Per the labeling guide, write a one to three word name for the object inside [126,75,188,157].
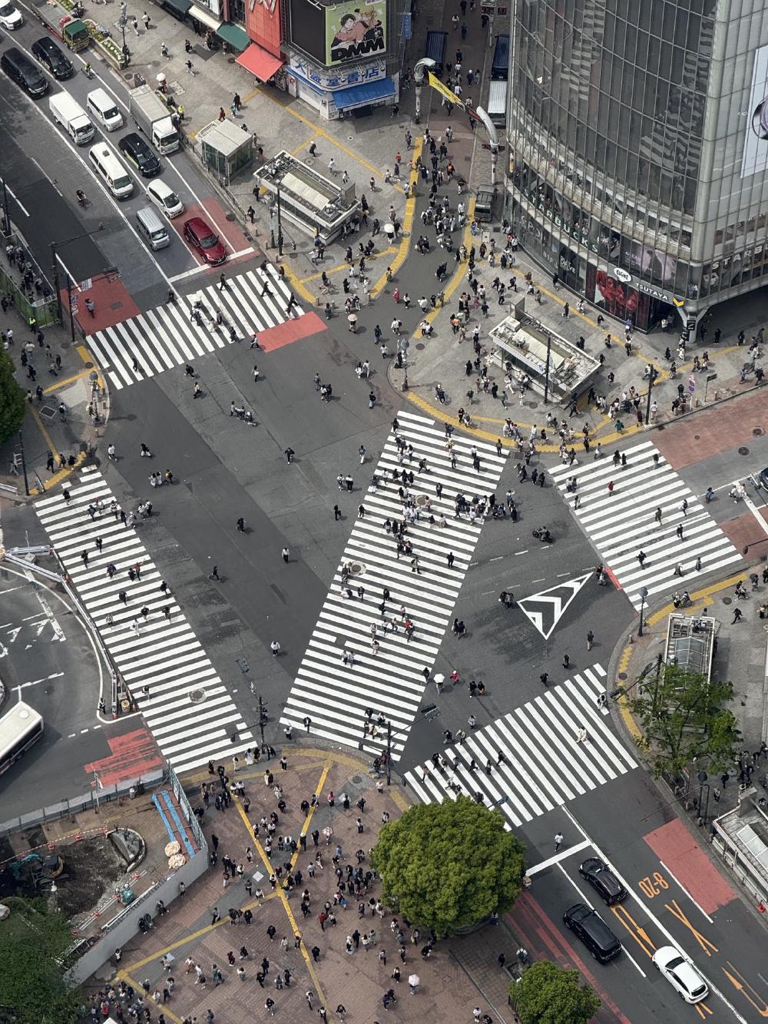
truck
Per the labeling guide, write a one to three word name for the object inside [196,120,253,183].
building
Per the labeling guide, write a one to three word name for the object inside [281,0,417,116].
building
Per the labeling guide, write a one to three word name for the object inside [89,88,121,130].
van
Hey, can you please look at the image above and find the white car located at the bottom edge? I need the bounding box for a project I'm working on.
[653,945,710,1007]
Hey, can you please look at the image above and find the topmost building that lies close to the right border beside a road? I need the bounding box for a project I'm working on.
[498,0,768,350]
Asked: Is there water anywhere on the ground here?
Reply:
No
